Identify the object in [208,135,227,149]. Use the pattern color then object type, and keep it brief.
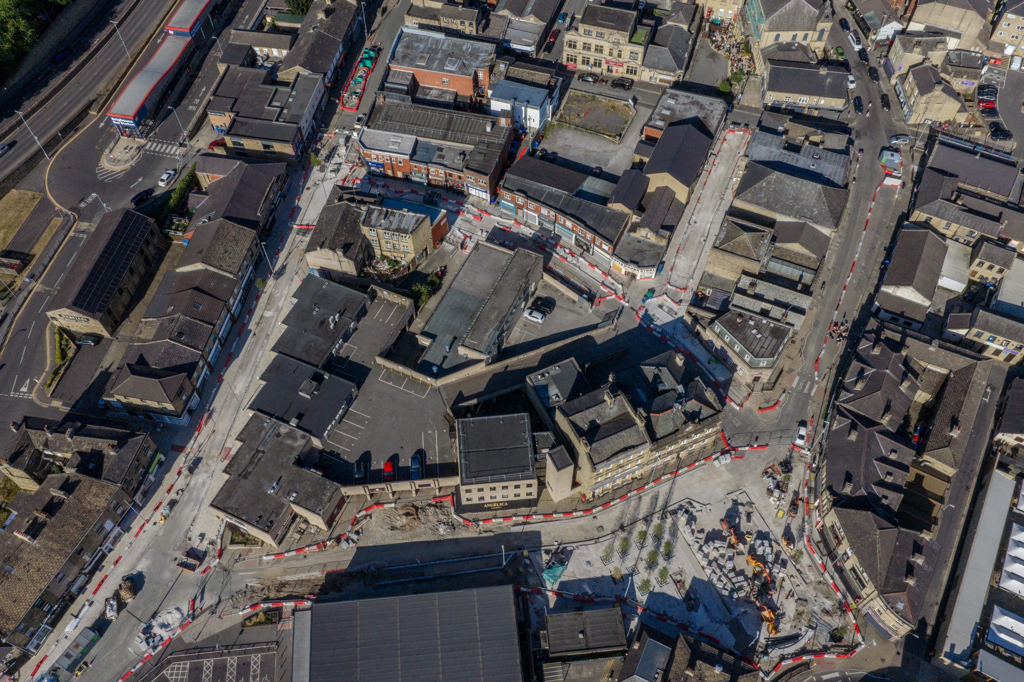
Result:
red car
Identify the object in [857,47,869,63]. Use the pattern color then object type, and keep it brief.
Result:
black vehicle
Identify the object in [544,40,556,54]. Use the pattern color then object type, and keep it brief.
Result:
black vehicle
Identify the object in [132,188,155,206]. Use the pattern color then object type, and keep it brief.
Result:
black car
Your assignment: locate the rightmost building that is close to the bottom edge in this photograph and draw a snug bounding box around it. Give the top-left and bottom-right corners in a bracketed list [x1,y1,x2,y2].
[928,467,1017,669]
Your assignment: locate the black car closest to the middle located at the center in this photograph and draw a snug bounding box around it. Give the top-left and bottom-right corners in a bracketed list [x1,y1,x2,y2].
[531,294,556,314]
